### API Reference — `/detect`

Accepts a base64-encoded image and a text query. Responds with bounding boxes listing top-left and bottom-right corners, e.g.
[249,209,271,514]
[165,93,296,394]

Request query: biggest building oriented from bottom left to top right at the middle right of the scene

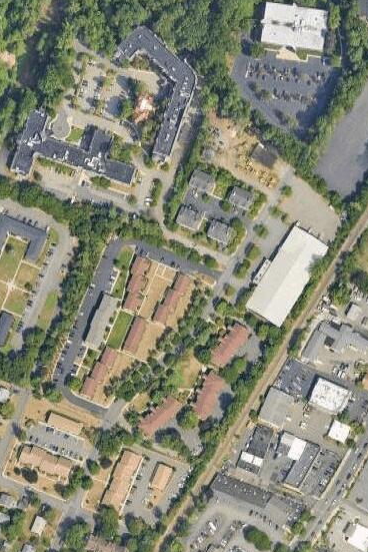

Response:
[246,225,329,328]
